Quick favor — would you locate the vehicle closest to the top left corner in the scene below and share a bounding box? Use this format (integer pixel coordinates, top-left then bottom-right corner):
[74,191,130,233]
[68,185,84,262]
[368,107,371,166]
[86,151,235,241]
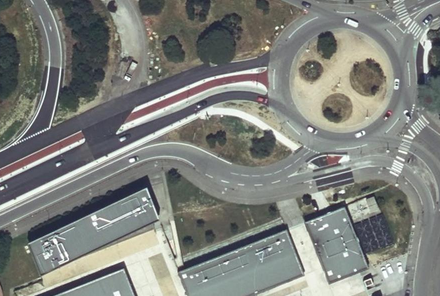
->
[125,62,137,80]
